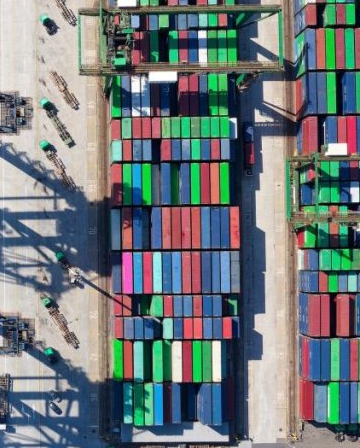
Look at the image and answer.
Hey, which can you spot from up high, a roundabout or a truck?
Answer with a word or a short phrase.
truck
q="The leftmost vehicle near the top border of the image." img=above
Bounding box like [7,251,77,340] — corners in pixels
[39,12,57,34]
